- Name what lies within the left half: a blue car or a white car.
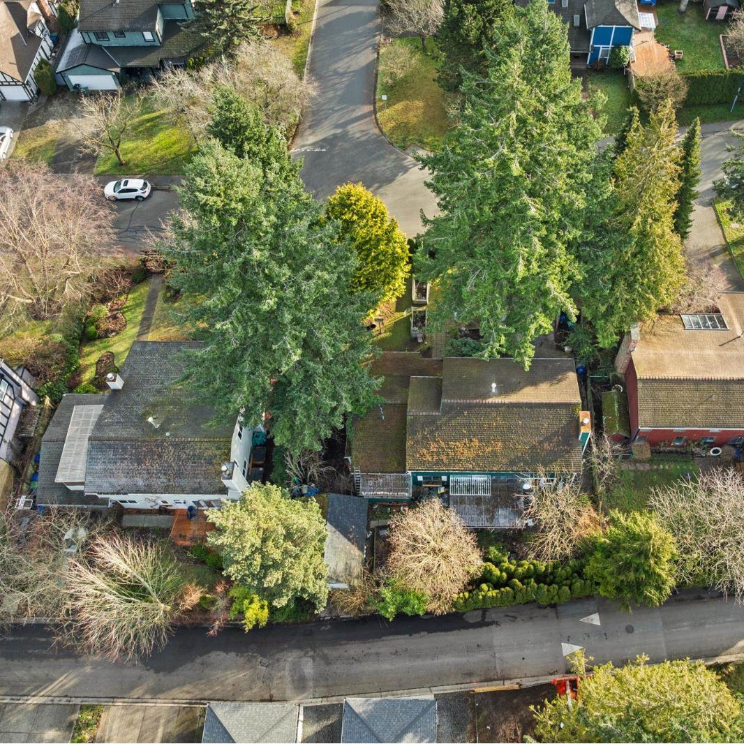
white car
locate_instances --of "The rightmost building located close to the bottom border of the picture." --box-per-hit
[339,697,436,744]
